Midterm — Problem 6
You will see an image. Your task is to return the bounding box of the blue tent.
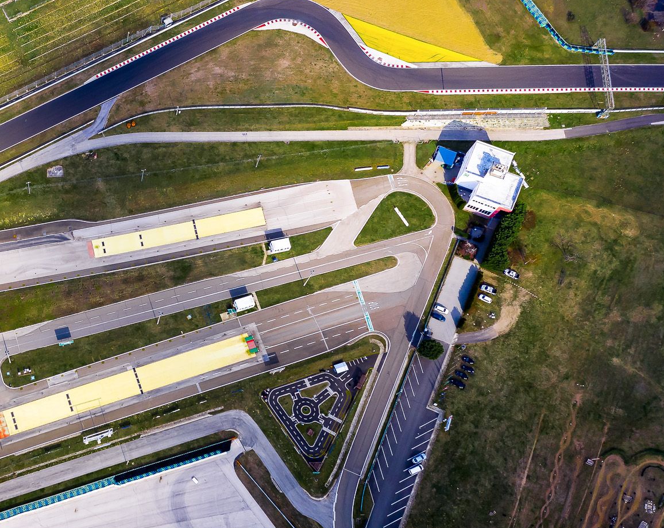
[432,146,457,169]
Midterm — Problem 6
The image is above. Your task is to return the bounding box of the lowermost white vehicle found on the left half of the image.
[188,474,202,487]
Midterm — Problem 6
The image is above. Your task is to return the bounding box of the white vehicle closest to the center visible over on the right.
[433,303,449,316]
